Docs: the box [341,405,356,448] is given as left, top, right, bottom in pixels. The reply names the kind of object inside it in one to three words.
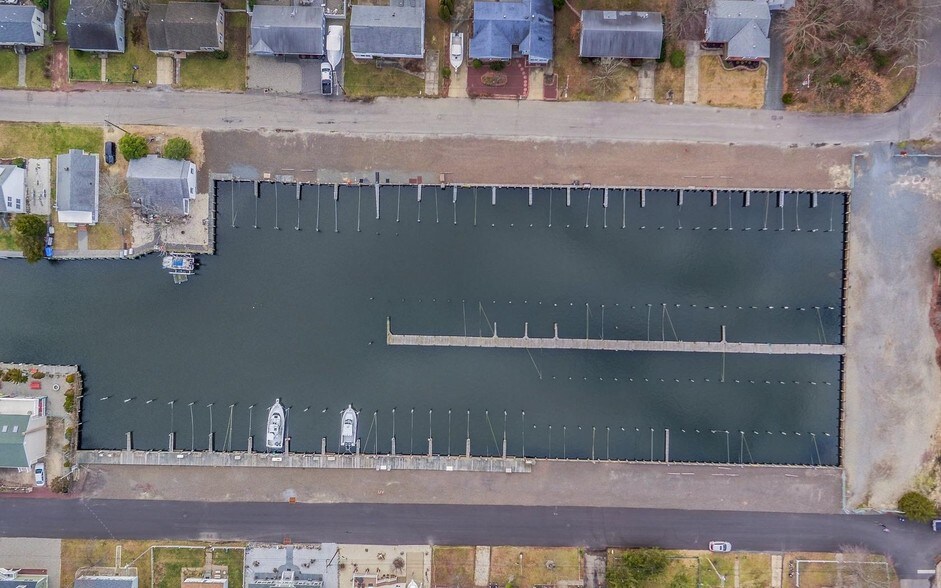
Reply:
boat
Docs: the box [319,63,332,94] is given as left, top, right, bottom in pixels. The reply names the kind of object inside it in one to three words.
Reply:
vehicle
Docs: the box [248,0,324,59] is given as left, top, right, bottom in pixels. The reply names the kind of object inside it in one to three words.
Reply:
house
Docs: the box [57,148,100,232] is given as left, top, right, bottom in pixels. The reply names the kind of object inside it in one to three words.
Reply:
house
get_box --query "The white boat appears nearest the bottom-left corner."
[264,400,284,449]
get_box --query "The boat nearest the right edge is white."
[450,28,463,71]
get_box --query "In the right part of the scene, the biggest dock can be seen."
[387,335,848,356]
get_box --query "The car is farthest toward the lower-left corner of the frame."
[33,462,47,486]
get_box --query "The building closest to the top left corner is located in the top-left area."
[0,4,45,54]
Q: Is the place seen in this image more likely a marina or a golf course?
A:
marina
